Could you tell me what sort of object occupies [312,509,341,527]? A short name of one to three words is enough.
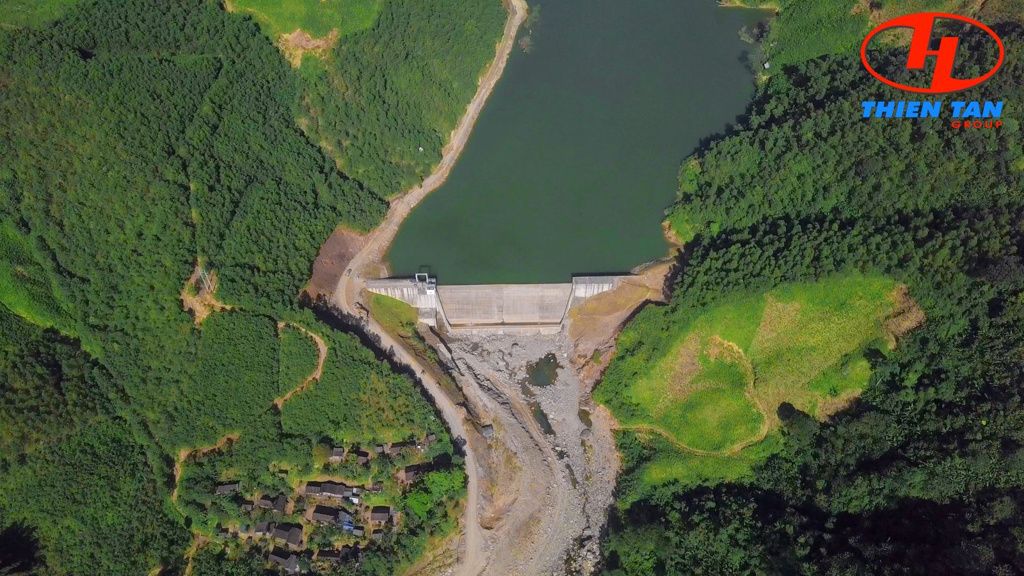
house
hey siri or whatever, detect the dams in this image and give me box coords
[365,275,635,339]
